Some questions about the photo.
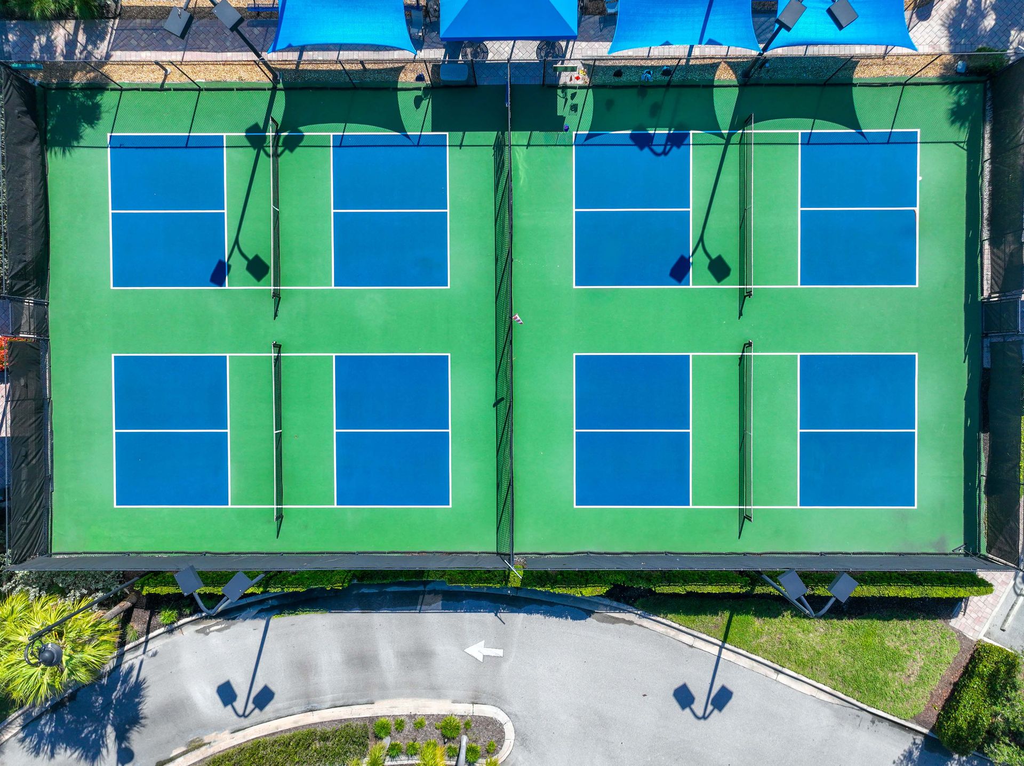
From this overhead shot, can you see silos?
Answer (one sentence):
No, I can see no silo in this picture.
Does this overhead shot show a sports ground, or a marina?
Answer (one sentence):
This image shows a sports ground.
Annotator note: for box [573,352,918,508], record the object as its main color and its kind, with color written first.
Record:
blue sports court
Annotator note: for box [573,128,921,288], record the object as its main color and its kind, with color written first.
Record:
blue sports court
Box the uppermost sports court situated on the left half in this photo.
[108,131,450,289]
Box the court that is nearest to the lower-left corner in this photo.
[111,353,451,508]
